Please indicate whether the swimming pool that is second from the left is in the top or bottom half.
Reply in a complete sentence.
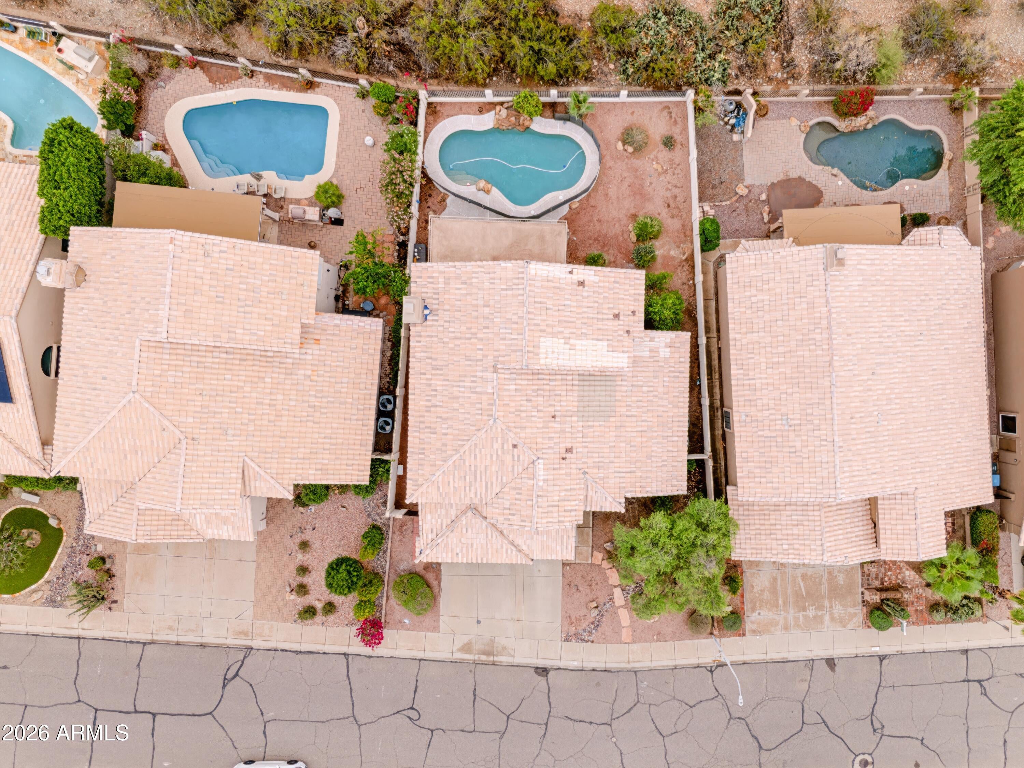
Seen from above, the swimming pool that is second from the left lies in the top half of the view.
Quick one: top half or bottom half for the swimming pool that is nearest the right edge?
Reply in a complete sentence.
The swimming pool that is nearest the right edge sits in the top half of the picture.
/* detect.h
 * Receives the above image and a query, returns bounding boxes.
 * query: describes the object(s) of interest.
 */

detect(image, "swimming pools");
[164,87,340,198]
[798,113,949,196]
[424,110,599,218]
[0,41,101,155]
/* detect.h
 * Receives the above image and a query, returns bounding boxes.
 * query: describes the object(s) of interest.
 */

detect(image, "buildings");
[716,226,995,564]
[403,260,691,565]
[32,226,386,544]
